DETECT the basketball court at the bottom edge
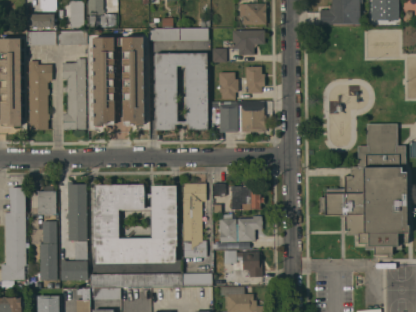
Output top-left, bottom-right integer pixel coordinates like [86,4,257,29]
[384,259,416,312]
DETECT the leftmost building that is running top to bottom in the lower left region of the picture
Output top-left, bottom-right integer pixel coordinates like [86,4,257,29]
[5,187,26,282]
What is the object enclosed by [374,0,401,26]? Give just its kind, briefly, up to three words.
house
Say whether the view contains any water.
No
